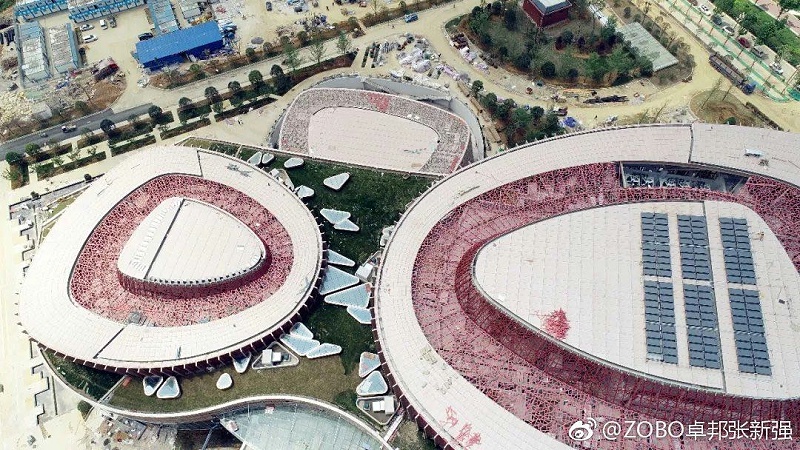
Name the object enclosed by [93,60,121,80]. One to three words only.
vehicle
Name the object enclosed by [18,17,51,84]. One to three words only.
shed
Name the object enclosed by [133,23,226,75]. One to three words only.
shed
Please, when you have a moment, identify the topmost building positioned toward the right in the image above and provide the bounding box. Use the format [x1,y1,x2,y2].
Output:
[515,0,576,29]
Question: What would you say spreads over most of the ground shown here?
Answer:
buildings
